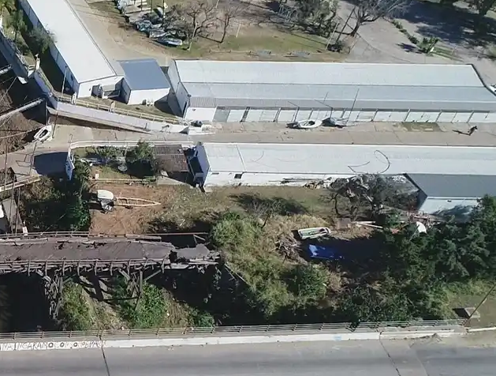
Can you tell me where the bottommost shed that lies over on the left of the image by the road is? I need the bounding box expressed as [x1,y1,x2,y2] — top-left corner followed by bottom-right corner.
[153,143,188,180]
